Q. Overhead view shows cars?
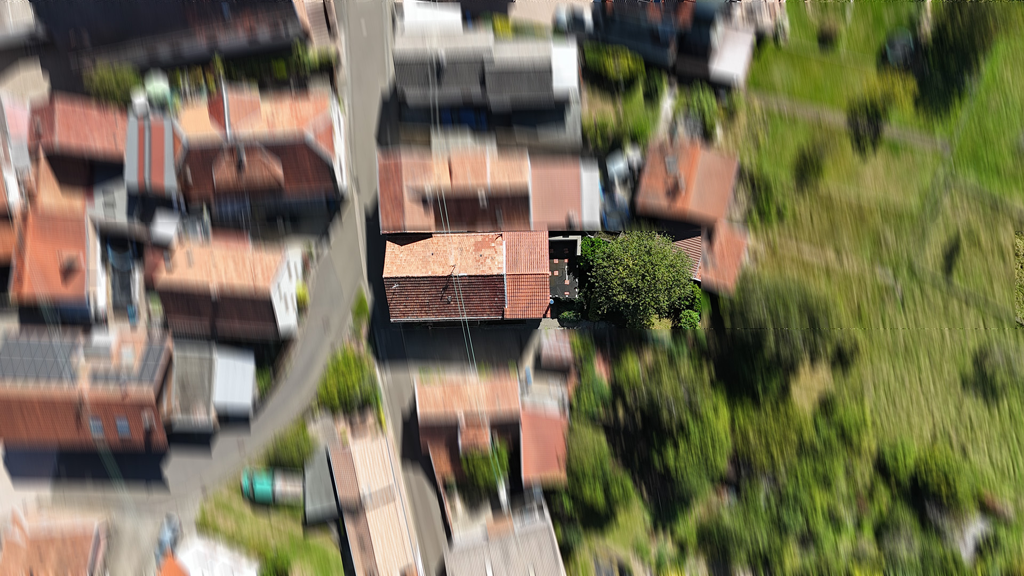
Yes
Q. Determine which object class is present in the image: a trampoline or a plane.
trampoline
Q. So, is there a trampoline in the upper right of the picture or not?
Yes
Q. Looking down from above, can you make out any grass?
Yes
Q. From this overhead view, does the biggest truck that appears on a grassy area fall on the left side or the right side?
left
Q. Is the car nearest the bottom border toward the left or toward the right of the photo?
left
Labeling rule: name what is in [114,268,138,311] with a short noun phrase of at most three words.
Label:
car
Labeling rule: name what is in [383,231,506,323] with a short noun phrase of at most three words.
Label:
house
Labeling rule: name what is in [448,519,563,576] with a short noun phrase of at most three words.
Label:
building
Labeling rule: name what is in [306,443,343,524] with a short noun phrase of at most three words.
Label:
shed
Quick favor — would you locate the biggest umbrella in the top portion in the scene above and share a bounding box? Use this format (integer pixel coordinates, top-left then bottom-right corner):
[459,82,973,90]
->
[147,74,174,101]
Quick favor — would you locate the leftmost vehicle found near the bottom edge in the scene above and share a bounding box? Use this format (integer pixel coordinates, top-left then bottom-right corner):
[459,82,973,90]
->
[156,507,191,556]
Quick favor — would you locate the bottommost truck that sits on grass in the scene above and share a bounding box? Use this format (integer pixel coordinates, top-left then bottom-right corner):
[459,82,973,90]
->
[245,464,306,503]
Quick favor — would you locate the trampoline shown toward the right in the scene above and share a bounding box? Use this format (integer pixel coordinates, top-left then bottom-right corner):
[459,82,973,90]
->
[878,23,930,67]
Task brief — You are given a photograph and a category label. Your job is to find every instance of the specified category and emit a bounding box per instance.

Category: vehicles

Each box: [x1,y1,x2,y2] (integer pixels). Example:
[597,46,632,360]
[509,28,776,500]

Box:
[114,268,138,311]
[156,507,191,556]
[550,0,575,41]
[575,0,591,42]
[245,464,306,503]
